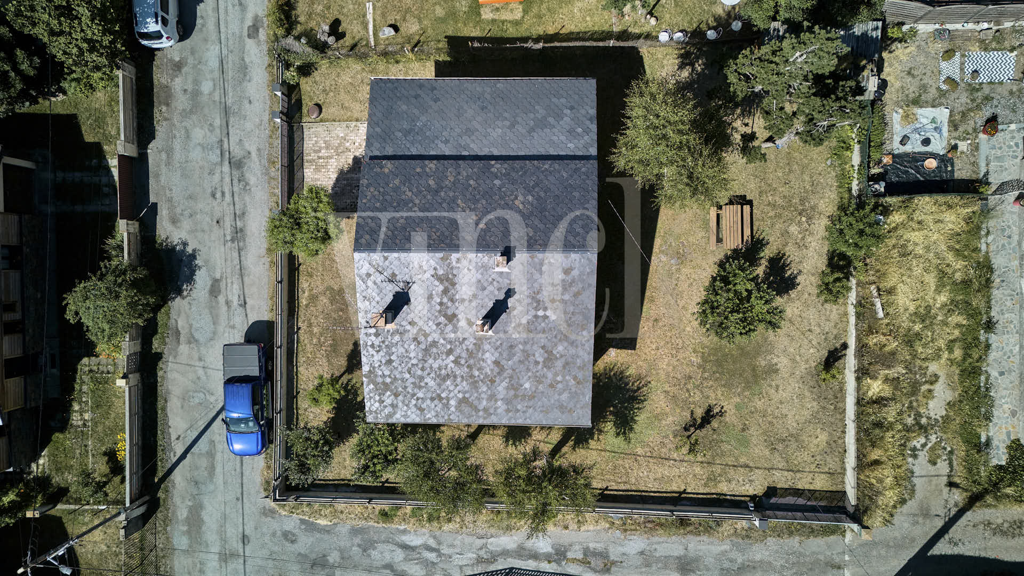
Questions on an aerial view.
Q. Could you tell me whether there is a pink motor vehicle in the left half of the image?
No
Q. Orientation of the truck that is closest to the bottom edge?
from top to bottom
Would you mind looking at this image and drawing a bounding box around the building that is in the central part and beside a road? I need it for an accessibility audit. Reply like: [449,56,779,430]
[332,76,599,430]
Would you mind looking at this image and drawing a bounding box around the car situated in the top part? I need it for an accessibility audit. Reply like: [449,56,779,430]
[127,0,181,53]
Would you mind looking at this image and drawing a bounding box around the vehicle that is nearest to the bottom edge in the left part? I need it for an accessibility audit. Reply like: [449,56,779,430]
[219,341,273,456]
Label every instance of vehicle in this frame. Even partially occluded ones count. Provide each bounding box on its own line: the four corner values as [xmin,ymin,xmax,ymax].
[127,0,181,53]
[219,341,273,456]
